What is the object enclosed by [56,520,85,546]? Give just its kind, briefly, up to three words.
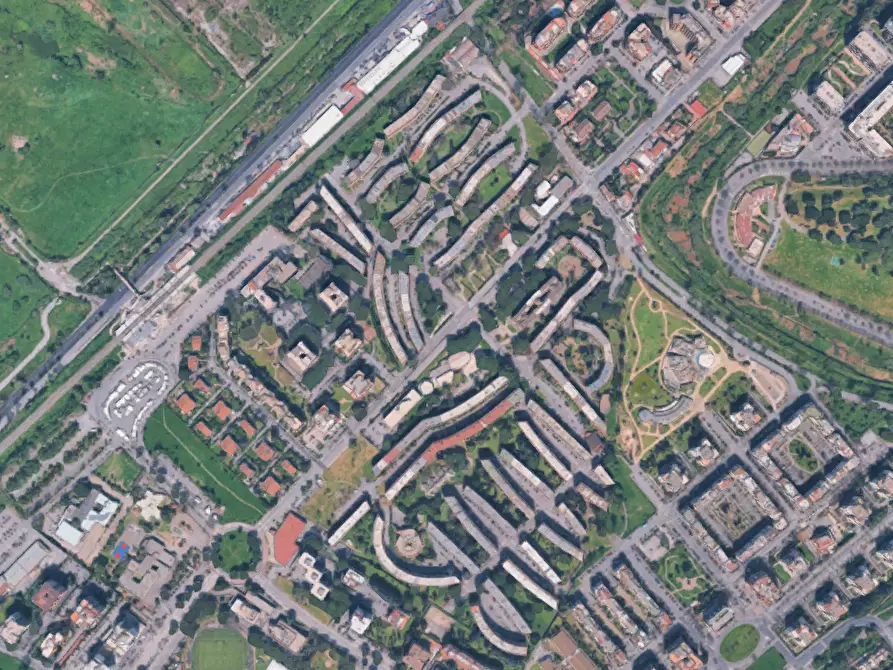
building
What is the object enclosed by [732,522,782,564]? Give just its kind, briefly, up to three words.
building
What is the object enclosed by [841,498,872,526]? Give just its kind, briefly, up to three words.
house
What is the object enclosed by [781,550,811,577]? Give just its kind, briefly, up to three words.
house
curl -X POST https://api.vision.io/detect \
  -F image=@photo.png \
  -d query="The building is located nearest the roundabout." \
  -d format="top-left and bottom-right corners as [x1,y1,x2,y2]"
[707,604,734,632]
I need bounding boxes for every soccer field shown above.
[186,623,254,670]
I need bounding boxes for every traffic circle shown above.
[720,624,760,661]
